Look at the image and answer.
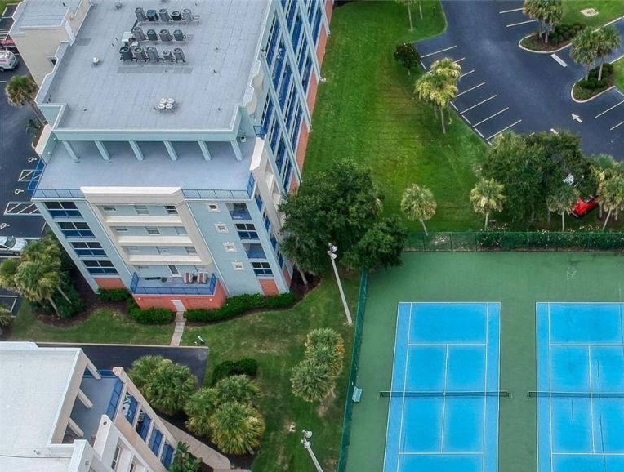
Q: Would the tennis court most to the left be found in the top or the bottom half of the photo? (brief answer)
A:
bottom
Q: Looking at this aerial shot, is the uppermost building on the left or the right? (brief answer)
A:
left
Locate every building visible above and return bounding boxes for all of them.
[7,0,333,312]
[0,346,182,472]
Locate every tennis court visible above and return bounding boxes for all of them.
[345,255,518,472]
[518,255,624,472]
